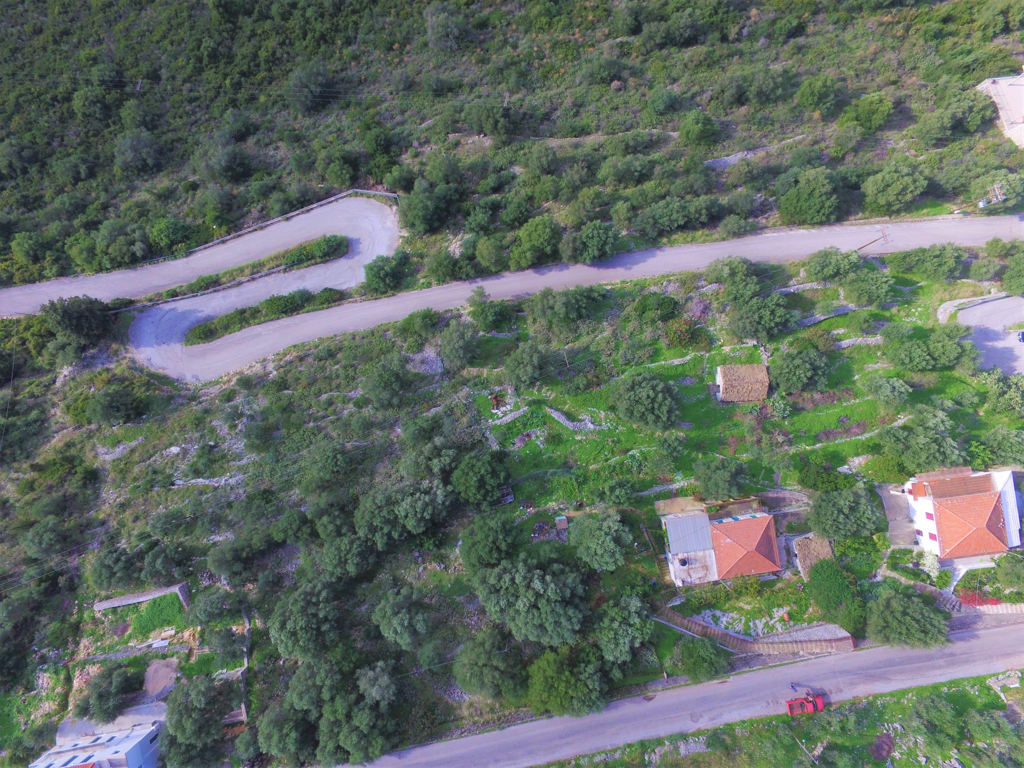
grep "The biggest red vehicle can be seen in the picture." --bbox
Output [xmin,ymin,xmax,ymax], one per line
[784,691,824,716]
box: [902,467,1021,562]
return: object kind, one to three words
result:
house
